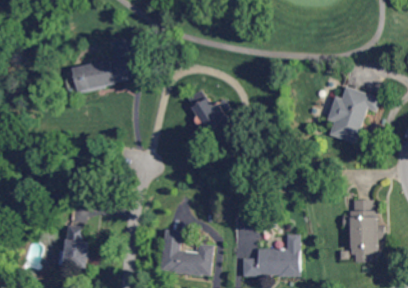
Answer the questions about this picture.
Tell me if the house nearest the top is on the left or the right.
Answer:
left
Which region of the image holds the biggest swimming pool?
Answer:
bottom left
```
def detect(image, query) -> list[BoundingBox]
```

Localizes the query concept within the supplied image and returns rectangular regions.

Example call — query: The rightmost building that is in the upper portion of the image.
[324,84,378,140]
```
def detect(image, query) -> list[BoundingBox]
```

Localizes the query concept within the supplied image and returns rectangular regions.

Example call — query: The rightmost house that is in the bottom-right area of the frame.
[349,196,386,264]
